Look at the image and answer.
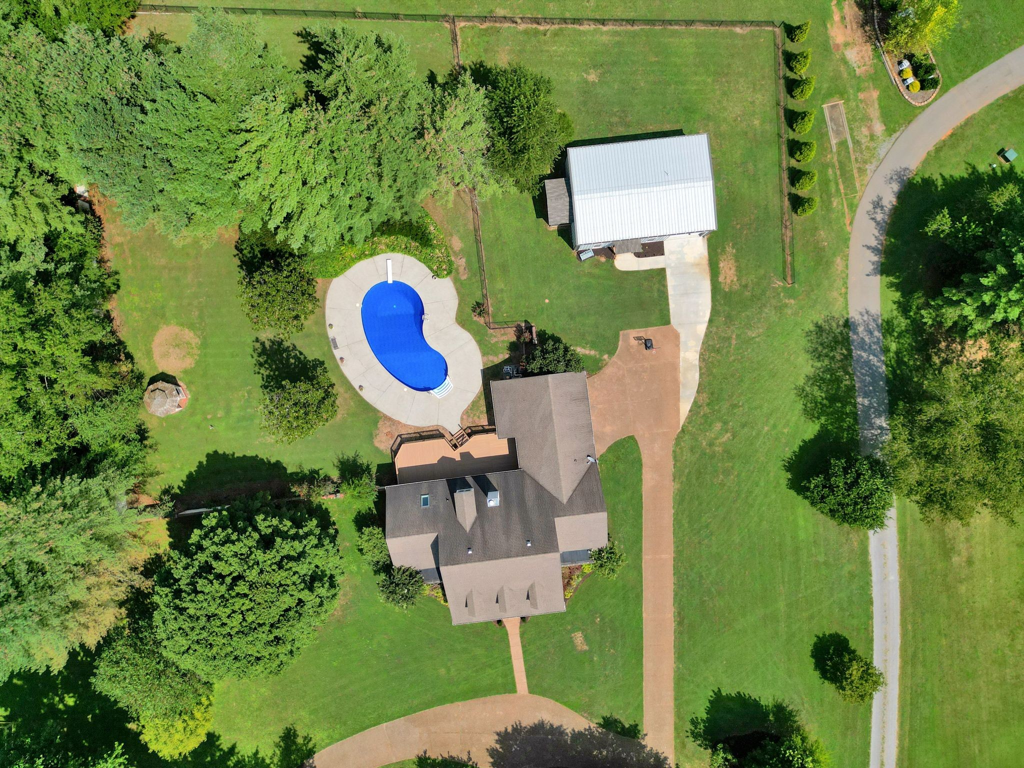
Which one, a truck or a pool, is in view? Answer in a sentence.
There is a pool in the scene.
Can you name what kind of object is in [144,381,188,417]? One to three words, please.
gazebo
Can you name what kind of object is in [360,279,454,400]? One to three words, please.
swimming pool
